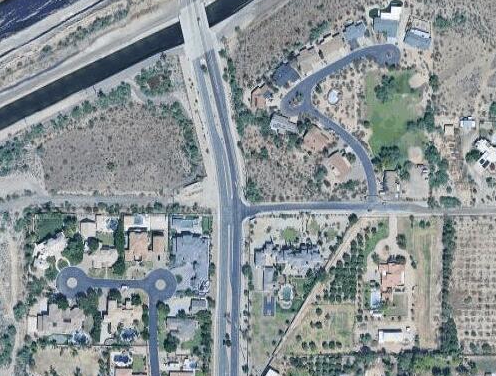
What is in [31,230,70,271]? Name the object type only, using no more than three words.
house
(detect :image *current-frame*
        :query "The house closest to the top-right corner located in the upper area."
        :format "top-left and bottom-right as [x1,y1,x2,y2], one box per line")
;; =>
[406,28,431,51]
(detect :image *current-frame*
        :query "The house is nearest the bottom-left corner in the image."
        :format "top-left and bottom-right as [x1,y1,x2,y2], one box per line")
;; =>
[41,304,87,332]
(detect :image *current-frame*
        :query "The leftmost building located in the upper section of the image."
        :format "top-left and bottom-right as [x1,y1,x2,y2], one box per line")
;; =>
[252,83,272,104]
